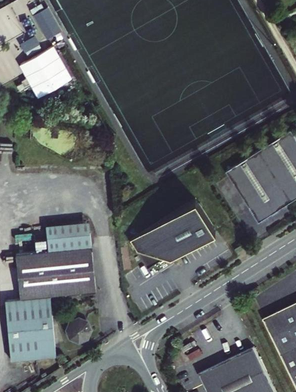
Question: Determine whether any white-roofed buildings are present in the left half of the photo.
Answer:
Yes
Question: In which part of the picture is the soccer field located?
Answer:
top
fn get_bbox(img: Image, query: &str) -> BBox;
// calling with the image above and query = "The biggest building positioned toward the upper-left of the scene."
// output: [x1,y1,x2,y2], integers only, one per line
[20,46,75,98]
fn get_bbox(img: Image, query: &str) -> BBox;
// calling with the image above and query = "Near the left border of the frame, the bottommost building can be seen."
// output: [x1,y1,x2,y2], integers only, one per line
[6,298,58,362]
